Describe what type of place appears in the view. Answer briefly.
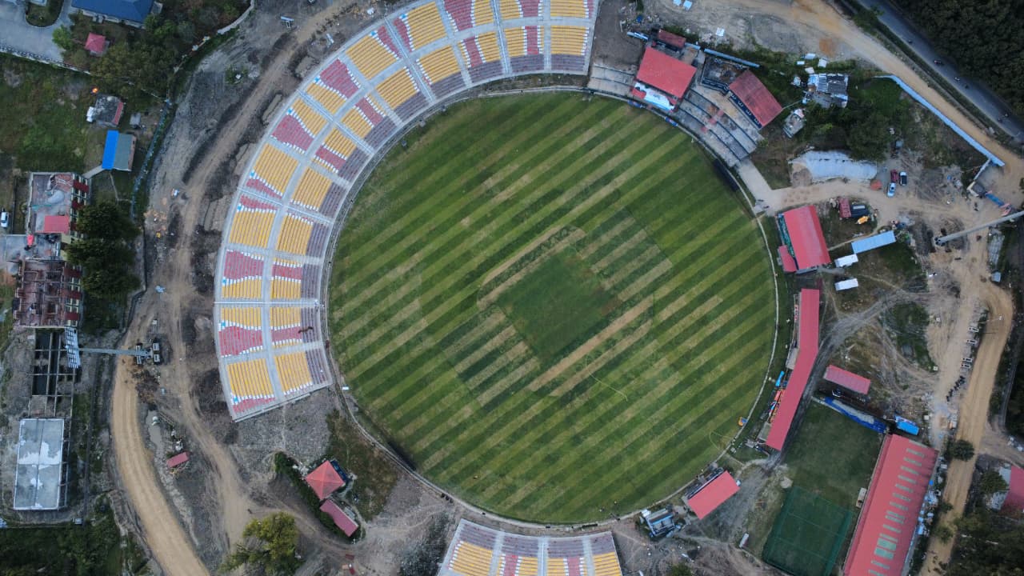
sports ground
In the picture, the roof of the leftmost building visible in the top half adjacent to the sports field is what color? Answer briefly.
red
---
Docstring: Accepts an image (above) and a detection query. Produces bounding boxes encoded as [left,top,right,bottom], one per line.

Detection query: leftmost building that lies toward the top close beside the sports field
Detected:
[628,47,696,117]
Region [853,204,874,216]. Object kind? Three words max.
vehicle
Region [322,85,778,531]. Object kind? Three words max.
sports field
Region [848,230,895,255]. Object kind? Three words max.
shed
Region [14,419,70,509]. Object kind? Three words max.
building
